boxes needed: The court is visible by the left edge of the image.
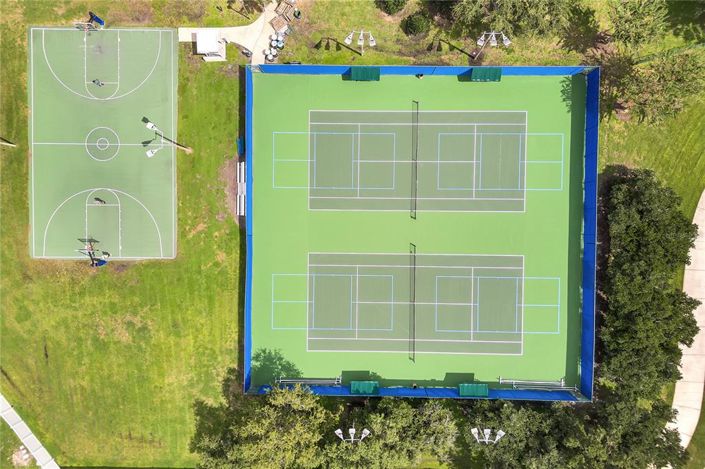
[28,27,176,261]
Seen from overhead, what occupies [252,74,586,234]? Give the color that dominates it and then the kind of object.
green tennis court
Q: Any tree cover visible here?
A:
Yes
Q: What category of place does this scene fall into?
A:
sports ground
